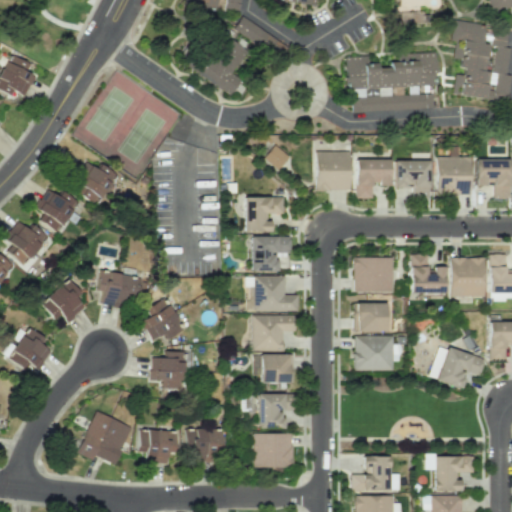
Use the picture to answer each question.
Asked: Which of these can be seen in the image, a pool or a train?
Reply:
pool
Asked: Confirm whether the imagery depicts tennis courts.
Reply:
Yes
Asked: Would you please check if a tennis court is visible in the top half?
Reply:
Yes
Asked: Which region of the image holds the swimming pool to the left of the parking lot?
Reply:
left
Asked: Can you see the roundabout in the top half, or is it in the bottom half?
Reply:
top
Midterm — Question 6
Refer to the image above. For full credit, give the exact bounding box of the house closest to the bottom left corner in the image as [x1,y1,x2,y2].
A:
[78,412,130,468]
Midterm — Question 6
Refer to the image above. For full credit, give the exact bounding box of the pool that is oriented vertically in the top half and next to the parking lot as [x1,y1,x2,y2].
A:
[220,156,234,183]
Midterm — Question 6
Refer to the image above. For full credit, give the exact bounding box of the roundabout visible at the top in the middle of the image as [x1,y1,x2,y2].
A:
[270,62,328,120]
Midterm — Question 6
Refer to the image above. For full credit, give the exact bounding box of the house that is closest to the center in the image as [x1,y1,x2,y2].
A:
[246,237,292,272]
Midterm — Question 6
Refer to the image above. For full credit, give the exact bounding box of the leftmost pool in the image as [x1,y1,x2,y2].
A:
[98,246,118,266]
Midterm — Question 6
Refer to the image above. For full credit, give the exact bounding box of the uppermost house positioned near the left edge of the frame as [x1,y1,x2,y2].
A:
[0,51,37,100]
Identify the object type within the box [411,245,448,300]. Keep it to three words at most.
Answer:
house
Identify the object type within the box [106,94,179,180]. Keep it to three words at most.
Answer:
tennis court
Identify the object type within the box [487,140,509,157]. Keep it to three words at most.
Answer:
swimming pool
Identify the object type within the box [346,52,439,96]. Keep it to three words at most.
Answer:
building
